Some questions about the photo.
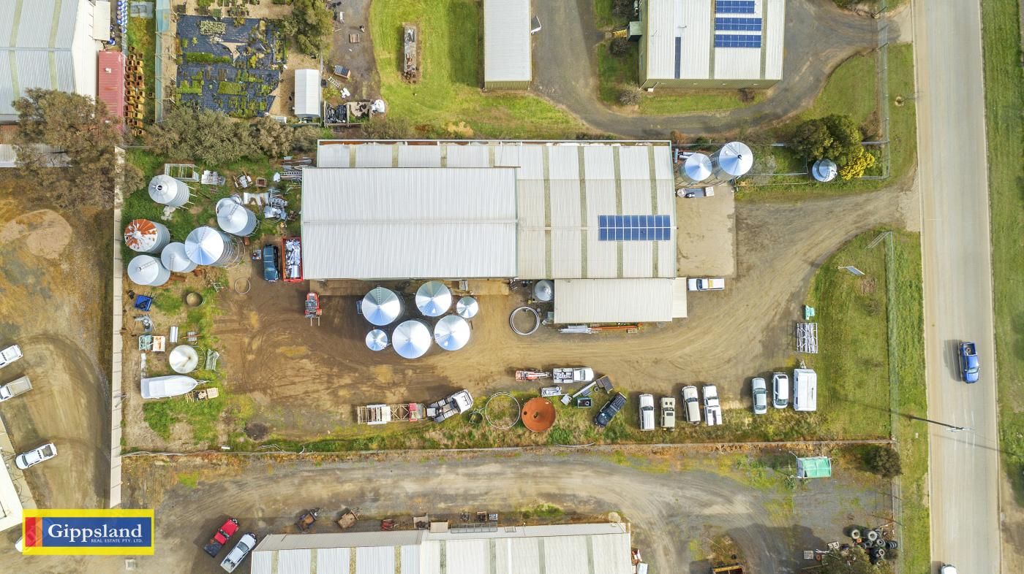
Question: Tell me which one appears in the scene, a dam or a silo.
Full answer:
The one in the frame is a silo.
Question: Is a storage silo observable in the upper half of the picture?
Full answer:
Yes, a storage silo is visible in the upper half of the picture.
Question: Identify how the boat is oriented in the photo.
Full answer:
In this picture, the boat lies from side to side.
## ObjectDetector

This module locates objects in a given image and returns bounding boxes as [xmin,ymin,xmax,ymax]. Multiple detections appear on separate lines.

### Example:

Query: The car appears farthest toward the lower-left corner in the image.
[9,524,45,557]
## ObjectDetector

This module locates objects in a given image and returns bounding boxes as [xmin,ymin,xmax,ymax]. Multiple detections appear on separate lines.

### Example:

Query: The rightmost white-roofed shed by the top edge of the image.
[641,0,785,89]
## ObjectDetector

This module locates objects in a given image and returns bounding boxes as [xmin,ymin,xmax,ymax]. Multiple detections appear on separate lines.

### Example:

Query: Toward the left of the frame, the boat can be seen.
[137,378,208,400]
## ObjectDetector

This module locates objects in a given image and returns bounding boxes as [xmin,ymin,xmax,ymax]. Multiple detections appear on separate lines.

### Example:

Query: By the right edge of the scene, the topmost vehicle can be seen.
[957,342,979,384]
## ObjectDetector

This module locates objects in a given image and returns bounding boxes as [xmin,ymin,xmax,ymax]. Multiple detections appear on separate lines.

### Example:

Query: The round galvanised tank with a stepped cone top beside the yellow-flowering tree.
[805,159,835,185]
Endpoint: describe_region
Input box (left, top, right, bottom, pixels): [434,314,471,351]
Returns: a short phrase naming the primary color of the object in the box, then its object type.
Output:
white silo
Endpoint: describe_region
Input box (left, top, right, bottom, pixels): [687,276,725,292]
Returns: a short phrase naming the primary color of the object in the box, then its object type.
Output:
white vehicle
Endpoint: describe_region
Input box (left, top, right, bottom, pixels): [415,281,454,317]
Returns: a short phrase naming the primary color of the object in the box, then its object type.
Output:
white silo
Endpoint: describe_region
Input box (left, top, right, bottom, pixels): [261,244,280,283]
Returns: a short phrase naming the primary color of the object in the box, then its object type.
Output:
blue car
